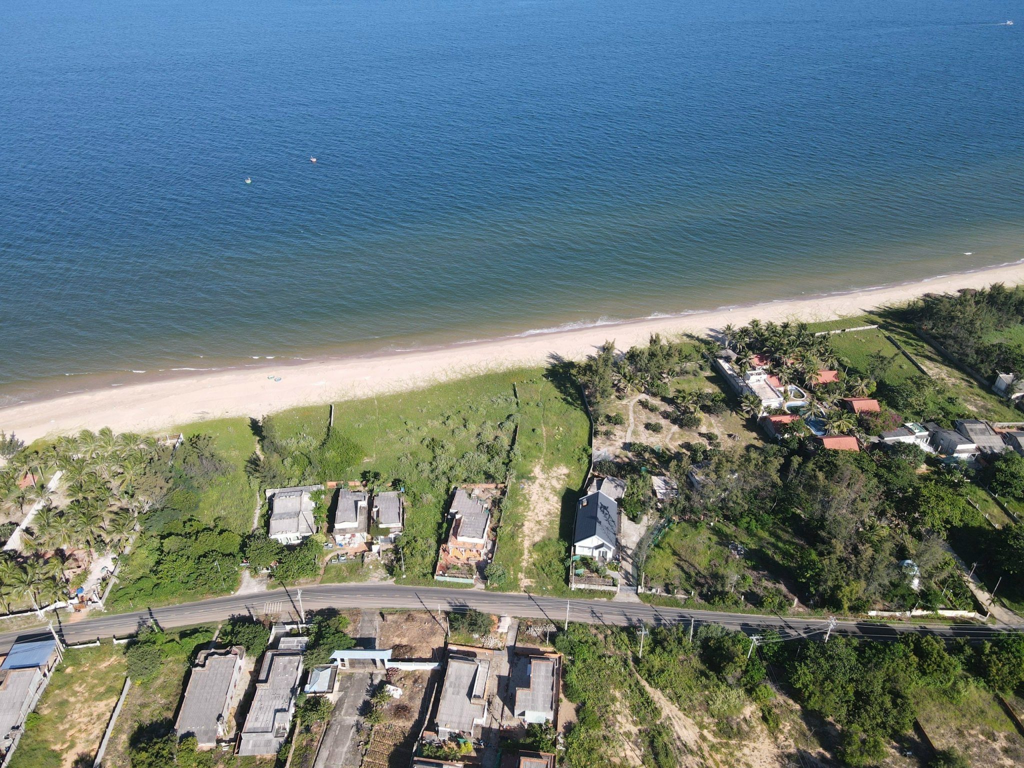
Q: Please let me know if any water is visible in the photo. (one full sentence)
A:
Yes, there is water in the image.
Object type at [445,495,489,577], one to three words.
house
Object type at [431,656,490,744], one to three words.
house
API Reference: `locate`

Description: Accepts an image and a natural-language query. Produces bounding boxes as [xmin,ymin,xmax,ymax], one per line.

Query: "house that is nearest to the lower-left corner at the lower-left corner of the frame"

[0,667,43,759]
